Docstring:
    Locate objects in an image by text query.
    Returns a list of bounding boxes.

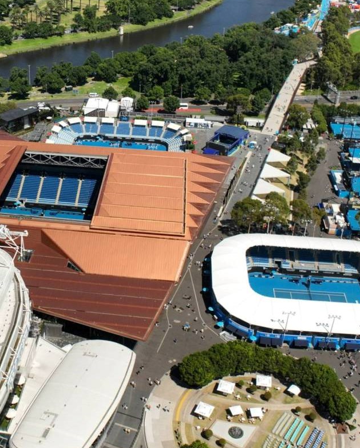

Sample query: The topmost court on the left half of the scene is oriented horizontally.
[78,139,168,152]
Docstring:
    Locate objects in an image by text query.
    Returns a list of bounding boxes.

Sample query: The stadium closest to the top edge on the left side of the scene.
[46,116,194,153]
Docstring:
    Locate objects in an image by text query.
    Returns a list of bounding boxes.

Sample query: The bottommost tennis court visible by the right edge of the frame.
[248,272,360,304]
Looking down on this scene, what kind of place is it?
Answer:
sports ground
